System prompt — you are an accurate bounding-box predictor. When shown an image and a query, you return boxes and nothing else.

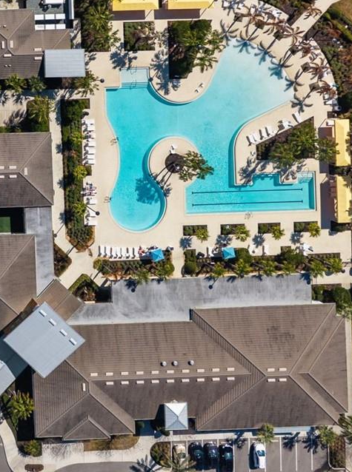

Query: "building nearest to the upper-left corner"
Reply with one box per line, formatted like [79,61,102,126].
[0,9,85,80]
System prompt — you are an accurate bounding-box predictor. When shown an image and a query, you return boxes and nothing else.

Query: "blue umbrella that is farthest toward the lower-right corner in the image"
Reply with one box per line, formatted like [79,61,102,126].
[221,245,236,259]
